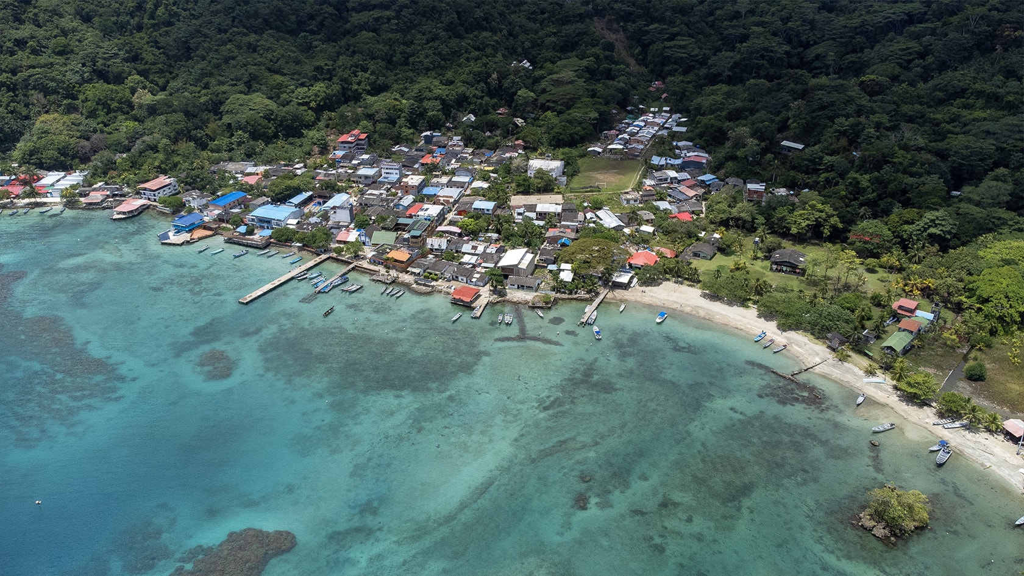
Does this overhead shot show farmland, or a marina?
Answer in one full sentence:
This looks like a marina.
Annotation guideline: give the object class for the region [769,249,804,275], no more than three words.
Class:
house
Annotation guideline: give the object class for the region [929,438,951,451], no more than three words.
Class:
boat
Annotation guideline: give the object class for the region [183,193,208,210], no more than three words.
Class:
house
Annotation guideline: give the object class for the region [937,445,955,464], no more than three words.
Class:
boat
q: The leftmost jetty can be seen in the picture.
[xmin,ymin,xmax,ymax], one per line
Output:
[240,255,330,306]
